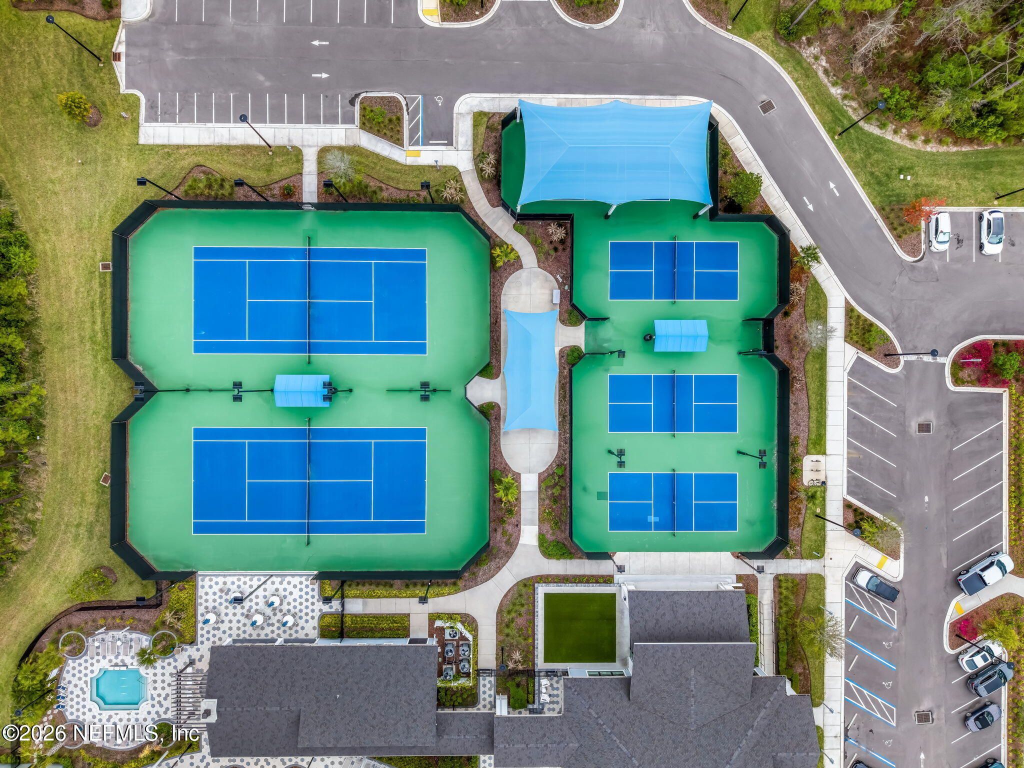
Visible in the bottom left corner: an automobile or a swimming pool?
swimming pool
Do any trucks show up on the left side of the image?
No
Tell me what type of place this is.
sports ground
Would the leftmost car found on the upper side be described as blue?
No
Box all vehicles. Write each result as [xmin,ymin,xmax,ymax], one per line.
[955,553,1012,594]
[965,661,1012,698]
[975,756,1006,768]
[962,699,1001,731]
[926,213,950,252]
[978,211,1004,254]
[955,638,1001,674]
[852,567,903,605]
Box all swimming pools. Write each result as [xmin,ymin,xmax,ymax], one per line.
[87,666,152,714]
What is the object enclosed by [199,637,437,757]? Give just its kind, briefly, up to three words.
building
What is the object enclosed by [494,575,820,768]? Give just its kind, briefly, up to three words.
building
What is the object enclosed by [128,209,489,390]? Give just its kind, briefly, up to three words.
tennis court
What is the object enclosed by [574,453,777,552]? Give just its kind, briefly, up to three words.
sports court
